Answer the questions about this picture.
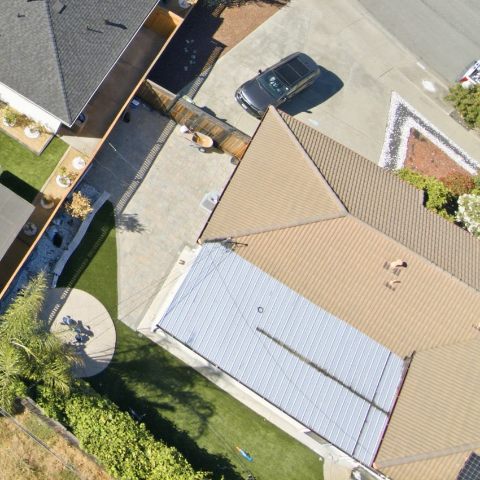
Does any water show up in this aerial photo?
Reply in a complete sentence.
No, there's no water in this view.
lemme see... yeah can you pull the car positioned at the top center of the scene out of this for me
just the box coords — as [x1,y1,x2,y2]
[228,52,328,114]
